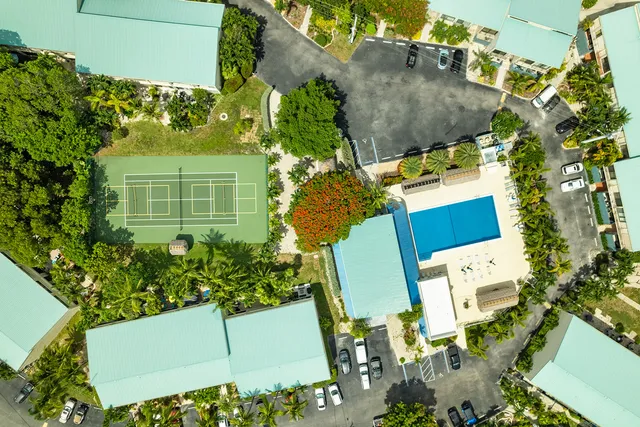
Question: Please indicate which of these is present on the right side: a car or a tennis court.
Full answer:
You can see a car on the right side.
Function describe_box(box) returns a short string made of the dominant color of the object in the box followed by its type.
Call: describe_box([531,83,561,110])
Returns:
white vehicle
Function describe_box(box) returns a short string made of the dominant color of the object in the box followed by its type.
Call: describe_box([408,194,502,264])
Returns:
blue swimming pool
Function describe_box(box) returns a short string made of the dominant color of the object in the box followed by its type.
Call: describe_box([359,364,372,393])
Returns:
white vehicle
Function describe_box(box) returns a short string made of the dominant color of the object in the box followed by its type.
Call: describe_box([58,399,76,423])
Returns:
white car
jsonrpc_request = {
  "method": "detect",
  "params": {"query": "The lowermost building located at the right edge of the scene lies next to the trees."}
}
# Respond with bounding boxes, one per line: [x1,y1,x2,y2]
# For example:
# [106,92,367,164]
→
[524,312,640,427]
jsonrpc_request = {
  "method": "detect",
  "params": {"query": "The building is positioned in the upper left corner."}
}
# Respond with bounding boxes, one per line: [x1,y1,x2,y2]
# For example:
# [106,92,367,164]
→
[0,0,229,92]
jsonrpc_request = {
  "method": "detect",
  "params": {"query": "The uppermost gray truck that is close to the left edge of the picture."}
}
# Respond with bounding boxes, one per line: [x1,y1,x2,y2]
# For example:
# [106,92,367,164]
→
[10,379,36,406]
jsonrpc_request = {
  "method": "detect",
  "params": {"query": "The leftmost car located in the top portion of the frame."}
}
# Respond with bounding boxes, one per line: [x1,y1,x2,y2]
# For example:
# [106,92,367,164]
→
[404,43,419,69]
